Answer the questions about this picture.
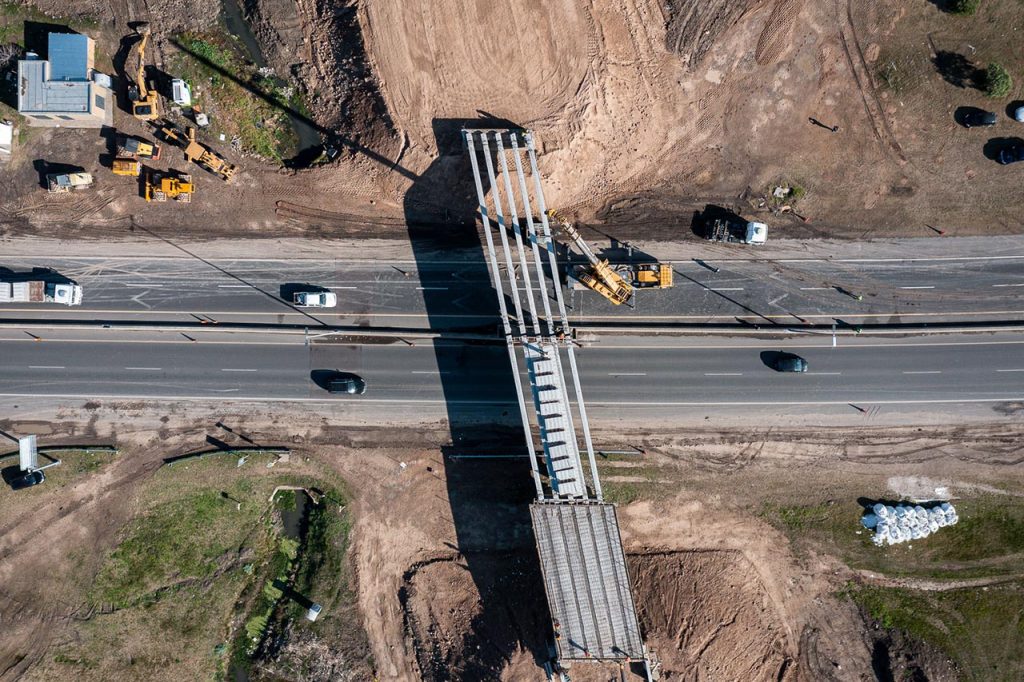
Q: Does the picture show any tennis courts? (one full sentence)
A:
No, there is no tennis court in the image.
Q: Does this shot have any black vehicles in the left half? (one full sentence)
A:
Yes, I can see a black vehicle in the left half.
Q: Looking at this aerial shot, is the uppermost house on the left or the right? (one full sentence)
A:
The uppermost house is on the left side of the image.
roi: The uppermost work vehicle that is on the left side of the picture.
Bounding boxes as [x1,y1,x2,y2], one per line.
[129,30,166,126]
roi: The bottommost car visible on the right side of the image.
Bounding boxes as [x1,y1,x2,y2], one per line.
[774,356,808,373]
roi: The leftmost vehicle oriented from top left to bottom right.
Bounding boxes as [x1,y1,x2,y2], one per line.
[161,125,237,181]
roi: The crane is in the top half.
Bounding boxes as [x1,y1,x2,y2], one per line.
[542,207,675,311]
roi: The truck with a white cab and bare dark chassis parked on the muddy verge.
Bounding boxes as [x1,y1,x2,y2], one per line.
[703,219,769,245]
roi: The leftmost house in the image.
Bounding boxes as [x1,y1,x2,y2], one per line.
[19,34,113,129]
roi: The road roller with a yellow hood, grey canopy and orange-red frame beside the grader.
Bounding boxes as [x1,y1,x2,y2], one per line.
[118,137,167,163]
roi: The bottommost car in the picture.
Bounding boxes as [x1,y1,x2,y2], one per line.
[11,469,48,490]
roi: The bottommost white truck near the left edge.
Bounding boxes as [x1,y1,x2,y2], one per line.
[0,281,87,308]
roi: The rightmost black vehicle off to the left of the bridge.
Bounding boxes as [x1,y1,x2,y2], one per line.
[330,376,367,394]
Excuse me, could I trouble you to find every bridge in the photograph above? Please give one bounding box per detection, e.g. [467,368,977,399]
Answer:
[461,129,652,682]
